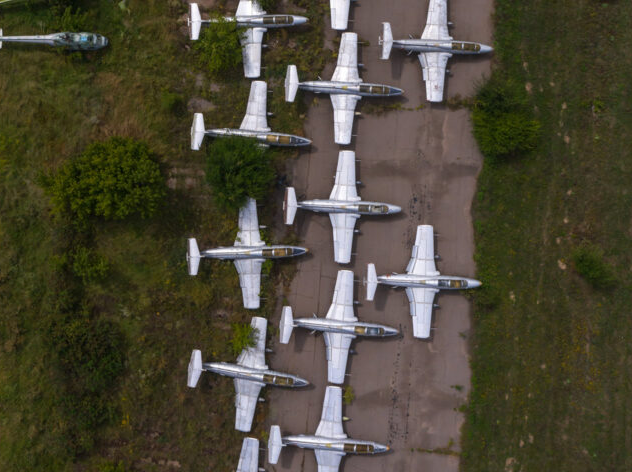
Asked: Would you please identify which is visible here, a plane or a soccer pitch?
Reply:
plane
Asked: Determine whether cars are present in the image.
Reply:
No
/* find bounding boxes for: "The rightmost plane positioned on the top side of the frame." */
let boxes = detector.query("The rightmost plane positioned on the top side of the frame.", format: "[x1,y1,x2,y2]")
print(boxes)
[378,0,494,102]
